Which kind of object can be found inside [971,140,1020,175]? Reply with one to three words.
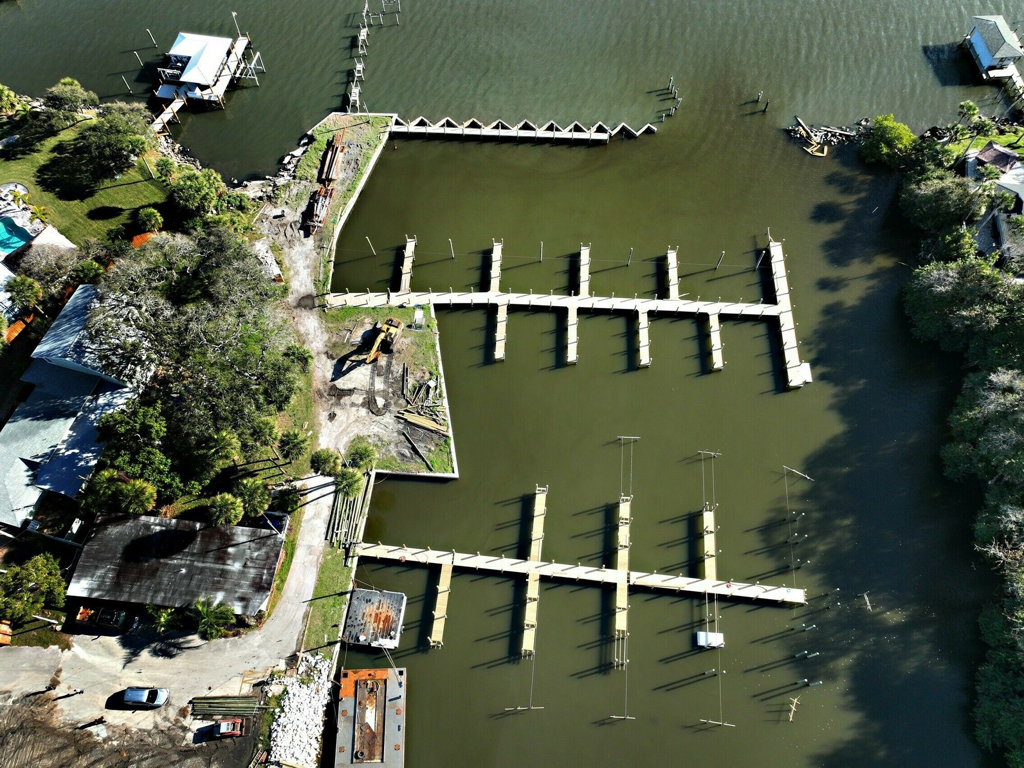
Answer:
shed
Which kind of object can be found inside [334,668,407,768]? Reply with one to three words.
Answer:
ship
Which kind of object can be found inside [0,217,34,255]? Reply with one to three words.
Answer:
swimming pool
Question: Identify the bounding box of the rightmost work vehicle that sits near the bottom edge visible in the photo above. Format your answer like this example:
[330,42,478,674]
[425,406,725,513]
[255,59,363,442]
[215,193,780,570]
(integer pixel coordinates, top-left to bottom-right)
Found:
[213,717,252,738]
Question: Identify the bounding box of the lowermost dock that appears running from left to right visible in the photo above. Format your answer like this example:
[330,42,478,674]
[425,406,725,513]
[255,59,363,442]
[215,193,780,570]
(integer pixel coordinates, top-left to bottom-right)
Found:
[358,486,809,669]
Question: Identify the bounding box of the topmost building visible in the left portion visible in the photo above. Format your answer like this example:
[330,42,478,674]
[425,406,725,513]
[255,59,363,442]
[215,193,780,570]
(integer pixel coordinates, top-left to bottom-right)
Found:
[150,30,253,135]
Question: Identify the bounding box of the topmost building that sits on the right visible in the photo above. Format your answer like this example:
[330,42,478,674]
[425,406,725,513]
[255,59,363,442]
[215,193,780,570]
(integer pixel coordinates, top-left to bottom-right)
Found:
[961,15,1024,104]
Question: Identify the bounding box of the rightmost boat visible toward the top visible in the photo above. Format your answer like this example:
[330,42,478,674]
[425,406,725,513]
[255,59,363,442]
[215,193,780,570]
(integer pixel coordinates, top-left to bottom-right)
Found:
[160,58,189,70]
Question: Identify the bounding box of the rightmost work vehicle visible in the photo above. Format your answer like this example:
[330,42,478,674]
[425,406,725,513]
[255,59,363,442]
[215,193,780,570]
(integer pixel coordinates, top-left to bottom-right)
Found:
[366,316,409,367]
